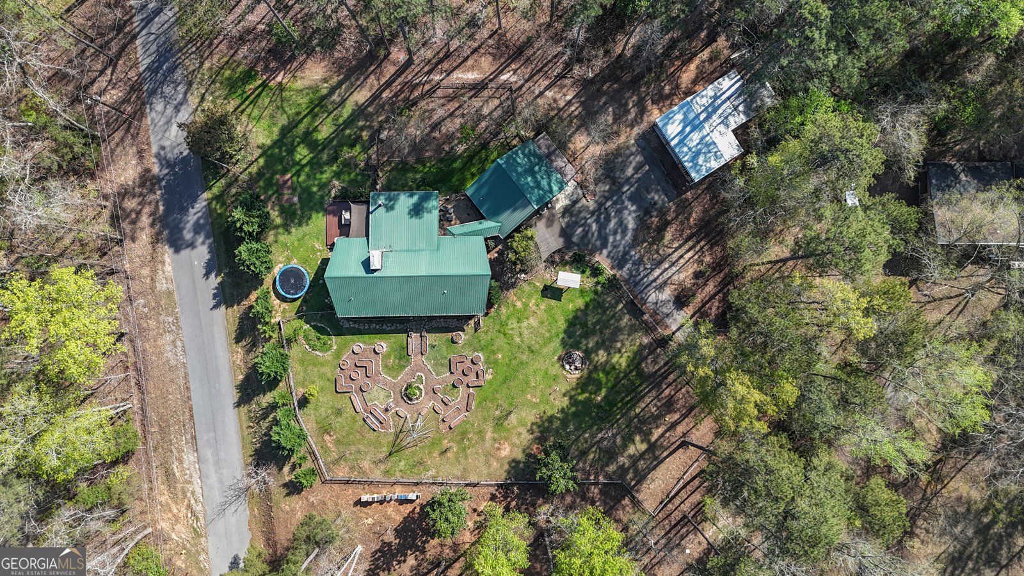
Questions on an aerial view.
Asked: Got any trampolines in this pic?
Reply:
Yes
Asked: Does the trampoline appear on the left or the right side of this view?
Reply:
left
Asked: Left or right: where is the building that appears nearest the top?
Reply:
right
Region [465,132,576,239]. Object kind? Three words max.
building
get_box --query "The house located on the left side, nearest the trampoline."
[324,191,491,318]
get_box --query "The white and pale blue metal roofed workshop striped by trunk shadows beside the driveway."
[653,70,780,183]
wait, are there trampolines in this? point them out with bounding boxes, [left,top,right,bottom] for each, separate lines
[276,266,310,300]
